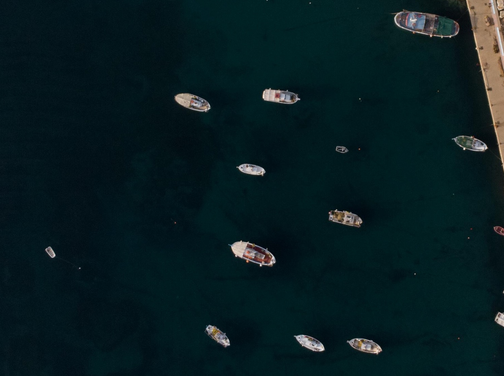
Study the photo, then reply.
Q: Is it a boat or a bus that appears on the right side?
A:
boat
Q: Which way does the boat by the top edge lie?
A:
from side to side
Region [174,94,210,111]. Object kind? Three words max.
boat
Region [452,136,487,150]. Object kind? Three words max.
boat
